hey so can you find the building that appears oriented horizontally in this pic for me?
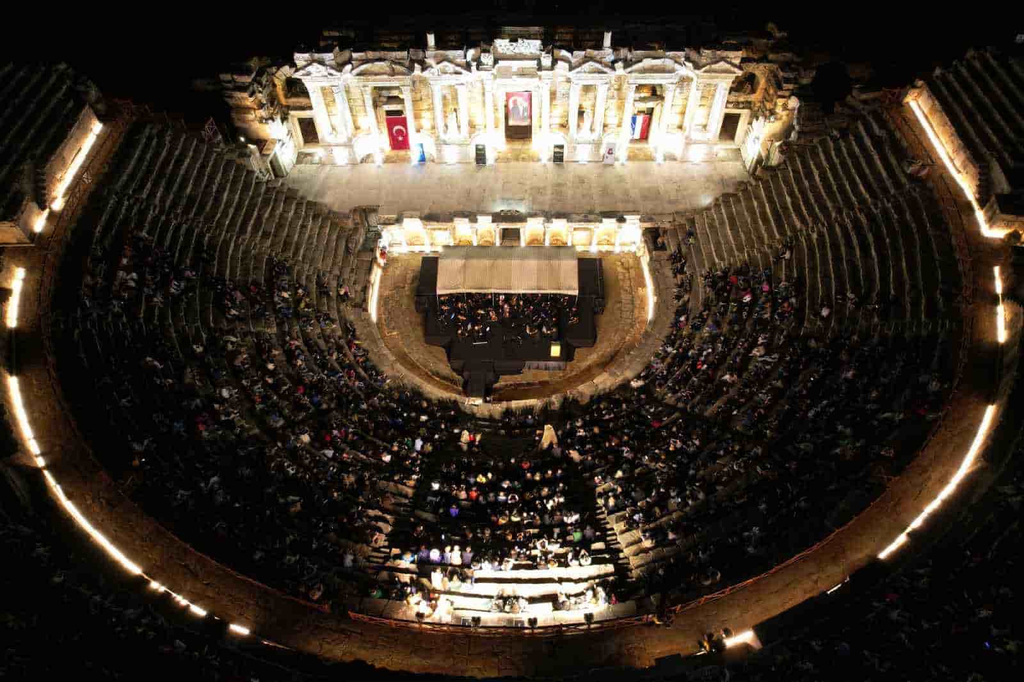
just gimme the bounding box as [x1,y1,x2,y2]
[279,15,757,161]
